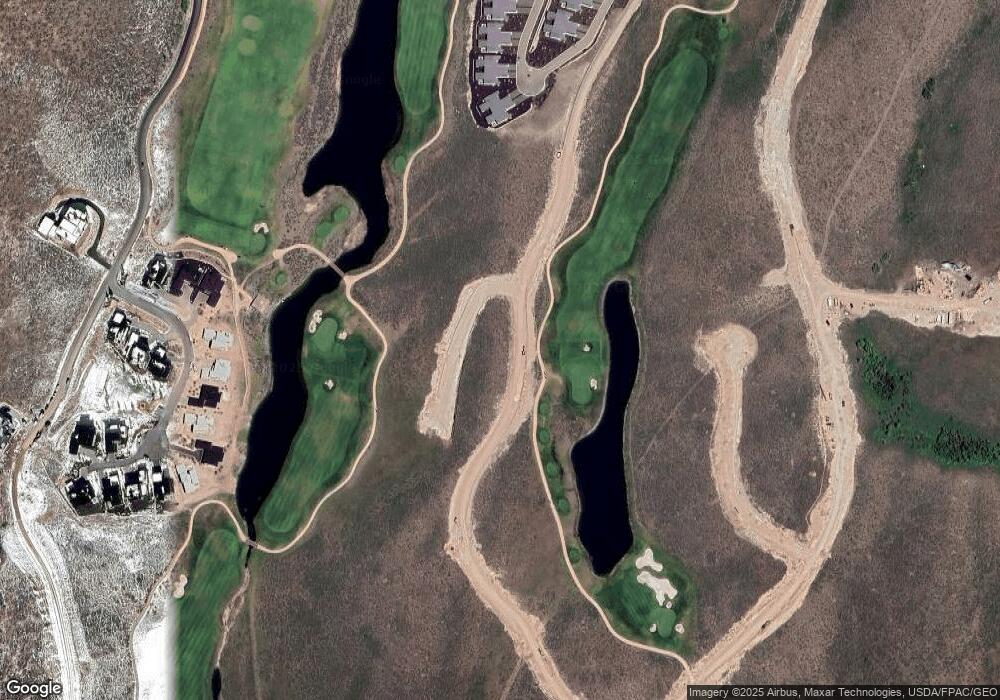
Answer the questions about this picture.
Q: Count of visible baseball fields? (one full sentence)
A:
Not a single baseball field can be seen.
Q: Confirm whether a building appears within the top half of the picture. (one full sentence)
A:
Yes, there is a building within the top half of the picture.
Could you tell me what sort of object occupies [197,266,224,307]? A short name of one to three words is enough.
house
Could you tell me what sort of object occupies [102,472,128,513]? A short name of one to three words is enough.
house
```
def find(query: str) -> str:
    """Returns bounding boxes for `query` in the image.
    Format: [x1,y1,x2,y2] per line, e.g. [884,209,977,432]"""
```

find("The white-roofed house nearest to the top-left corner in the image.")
[36,206,86,250]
